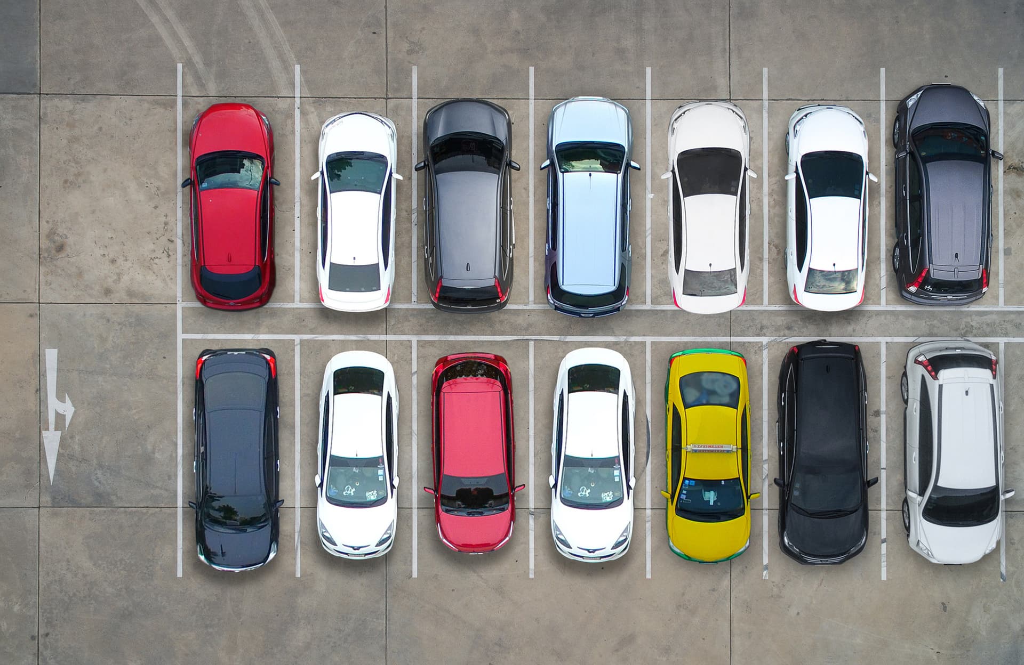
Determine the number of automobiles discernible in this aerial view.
14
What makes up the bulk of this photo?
paved ground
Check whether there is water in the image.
No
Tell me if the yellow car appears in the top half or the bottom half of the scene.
bottom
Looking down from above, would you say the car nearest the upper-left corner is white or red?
red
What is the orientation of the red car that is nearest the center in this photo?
up and down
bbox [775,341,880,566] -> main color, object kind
black car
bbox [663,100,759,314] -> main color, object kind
white car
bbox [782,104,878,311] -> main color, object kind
white car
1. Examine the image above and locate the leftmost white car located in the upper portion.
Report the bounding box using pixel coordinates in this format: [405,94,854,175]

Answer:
[311,111,402,311]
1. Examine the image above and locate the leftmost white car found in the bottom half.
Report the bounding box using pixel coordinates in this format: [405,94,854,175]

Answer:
[313,351,401,559]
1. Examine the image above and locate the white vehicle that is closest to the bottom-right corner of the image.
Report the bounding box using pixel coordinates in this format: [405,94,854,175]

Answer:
[905,341,1012,568]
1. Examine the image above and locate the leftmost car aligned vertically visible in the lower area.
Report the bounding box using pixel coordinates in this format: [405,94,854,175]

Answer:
[188,349,283,571]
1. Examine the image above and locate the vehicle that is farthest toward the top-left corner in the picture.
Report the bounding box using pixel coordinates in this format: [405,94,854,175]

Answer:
[181,103,279,311]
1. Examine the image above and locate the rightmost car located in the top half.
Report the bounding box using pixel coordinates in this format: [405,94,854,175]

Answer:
[895,81,1002,305]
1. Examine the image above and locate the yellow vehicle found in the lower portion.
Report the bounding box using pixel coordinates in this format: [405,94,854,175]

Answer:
[662,349,760,566]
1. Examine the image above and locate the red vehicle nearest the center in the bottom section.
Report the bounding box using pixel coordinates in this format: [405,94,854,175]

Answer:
[424,353,525,553]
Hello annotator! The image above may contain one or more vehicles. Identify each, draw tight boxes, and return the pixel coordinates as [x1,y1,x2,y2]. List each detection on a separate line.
[663,100,759,314]
[905,341,1012,568]
[782,104,878,311]
[775,341,880,566]
[424,353,525,553]
[181,103,279,311]
[895,81,1002,305]
[662,349,760,566]
[415,98,521,314]
[550,348,638,562]
[541,97,641,318]
[313,351,401,559]
[311,111,402,311]
[188,349,283,571]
